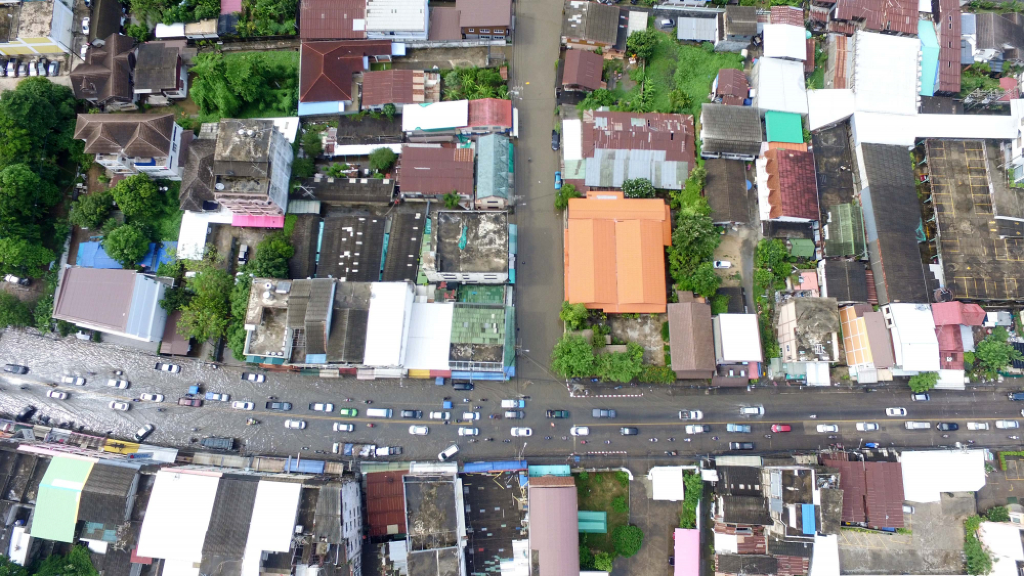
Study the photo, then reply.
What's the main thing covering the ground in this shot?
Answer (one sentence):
Most of the picture is covered by buildings.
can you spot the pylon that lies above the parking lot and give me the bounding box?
[963,87,1019,105]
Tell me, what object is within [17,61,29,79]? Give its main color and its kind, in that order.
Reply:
gray vehicle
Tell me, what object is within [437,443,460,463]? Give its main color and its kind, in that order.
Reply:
white car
